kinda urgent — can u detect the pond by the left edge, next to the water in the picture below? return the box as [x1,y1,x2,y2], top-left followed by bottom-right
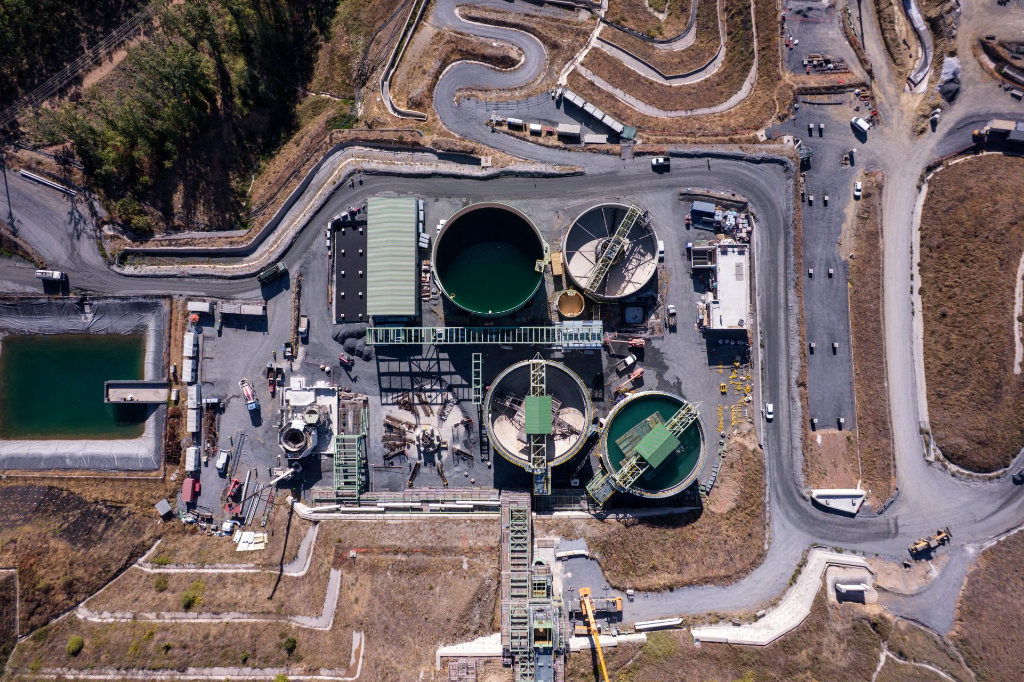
[0,298,170,470]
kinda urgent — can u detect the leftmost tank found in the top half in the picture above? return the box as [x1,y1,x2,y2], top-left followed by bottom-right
[431,201,551,319]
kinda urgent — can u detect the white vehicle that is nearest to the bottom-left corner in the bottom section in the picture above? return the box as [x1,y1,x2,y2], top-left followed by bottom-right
[214,449,232,473]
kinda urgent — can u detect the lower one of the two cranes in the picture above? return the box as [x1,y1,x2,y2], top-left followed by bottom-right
[569,585,619,682]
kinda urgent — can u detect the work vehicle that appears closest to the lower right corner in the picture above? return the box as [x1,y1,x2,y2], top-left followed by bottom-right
[912,526,948,552]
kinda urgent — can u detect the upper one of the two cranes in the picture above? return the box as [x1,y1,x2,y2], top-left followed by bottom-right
[227,459,308,514]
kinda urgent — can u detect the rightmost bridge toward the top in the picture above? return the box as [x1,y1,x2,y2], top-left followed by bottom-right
[584,205,641,291]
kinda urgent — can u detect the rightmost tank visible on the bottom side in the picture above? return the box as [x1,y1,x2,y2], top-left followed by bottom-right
[581,391,708,504]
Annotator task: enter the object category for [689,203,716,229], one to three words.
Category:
shed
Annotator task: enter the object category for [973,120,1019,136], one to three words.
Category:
vehicle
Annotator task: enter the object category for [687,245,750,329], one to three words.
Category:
building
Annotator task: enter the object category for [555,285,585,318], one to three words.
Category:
storage tank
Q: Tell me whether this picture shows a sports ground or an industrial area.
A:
industrial area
